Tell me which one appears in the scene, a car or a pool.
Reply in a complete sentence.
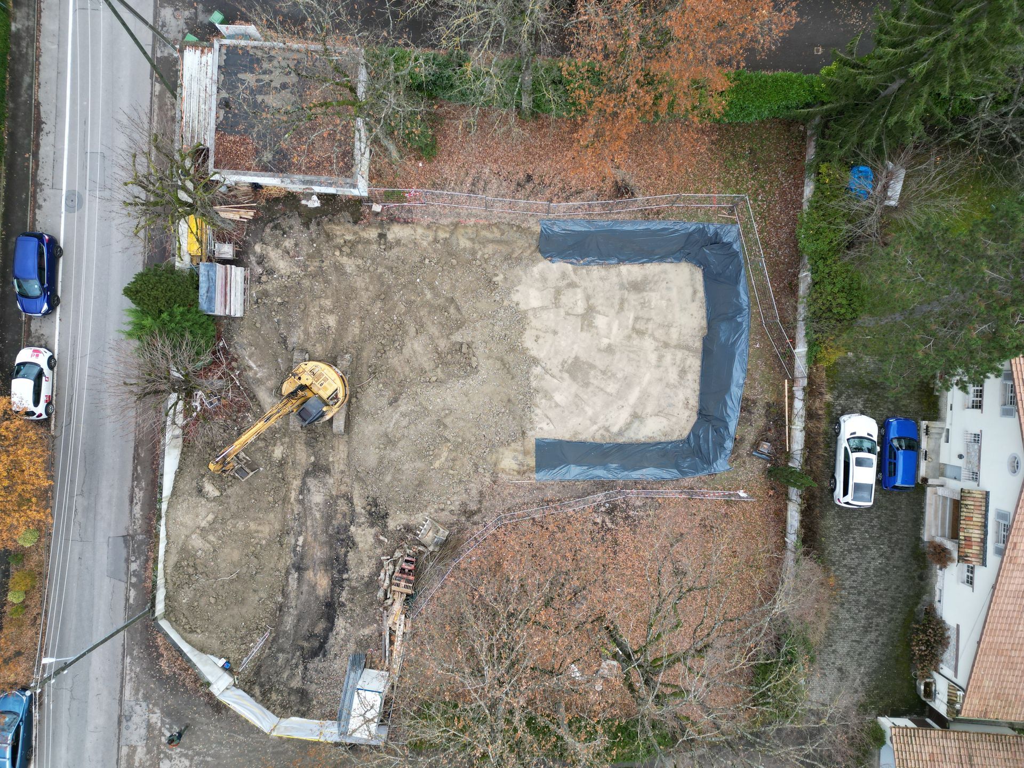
Looking from above, you can make out a car.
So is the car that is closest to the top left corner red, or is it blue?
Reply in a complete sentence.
The car that is closest to the top left corner looks blue in the image.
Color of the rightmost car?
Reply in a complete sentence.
The color of the rightmost car is blue.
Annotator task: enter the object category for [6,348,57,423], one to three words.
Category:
car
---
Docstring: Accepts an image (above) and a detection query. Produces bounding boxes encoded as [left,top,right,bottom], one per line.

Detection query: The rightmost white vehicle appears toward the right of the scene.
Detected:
[829,412,883,506]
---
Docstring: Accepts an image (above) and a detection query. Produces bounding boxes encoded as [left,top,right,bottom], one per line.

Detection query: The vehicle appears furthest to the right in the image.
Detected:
[877,417,924,493]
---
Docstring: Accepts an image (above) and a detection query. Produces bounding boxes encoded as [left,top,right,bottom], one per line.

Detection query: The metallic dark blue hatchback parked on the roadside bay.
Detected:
[11,234,64,315]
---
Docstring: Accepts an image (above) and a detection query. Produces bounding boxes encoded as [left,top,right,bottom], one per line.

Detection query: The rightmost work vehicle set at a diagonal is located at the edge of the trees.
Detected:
[202,352,357,484]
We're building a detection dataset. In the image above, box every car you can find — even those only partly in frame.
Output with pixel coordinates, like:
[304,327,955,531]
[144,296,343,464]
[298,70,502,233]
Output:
[829,412,883,506]
[6,348,57,423]
[0,687,37,768]
[877,417,924,493]
[11,234,64,315]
